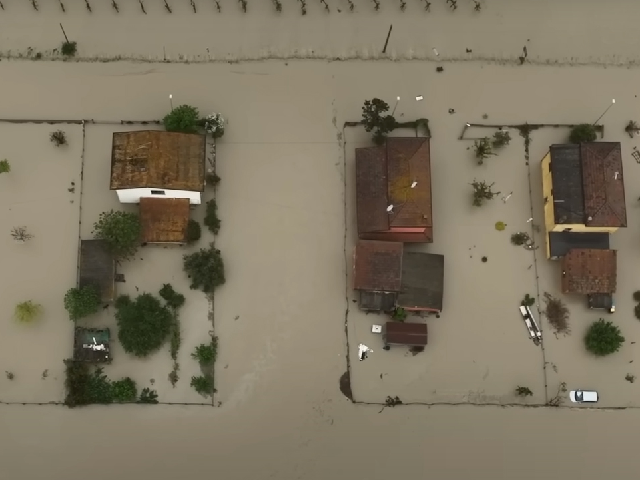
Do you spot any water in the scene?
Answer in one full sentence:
Yes, there's water in this view.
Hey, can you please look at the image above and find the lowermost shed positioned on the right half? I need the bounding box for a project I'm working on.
[385,322,428,347]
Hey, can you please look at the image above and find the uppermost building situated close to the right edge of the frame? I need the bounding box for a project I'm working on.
[542,142,627,262]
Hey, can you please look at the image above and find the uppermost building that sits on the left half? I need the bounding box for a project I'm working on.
[109,130,207,245]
